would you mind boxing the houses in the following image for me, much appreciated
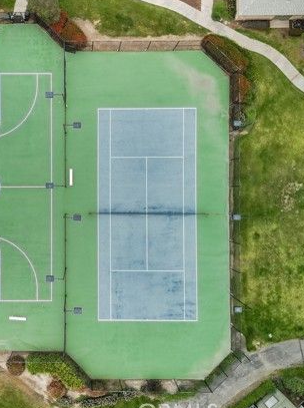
[234,0,304,27]
[254,386,304,408]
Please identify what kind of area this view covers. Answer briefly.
sports ground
